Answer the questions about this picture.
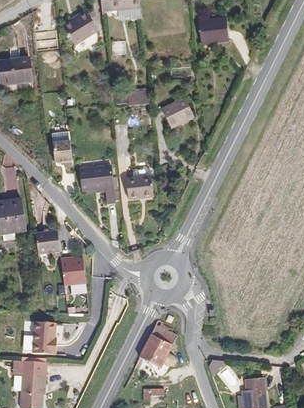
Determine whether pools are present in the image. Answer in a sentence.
Yes, the picture does show a pool.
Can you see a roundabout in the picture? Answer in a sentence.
Yes, this view includes a roundabout.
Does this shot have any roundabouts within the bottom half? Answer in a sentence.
Yes, the scene does show a roundabout within the bottom half.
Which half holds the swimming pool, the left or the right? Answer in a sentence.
The swimming pool appears in the right half of the scene.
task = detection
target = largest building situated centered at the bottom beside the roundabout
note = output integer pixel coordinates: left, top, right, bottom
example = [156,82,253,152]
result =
[139,318,181,370]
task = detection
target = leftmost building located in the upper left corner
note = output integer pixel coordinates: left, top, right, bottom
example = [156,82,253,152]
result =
[0,47,34,91]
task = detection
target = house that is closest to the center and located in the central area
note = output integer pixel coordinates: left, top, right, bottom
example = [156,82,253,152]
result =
[126,164,154,202]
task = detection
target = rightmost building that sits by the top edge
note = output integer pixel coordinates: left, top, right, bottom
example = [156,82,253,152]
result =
[197,16,230,44]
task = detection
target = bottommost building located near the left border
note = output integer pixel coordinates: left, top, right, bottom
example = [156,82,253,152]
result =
[10,360,46,408]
